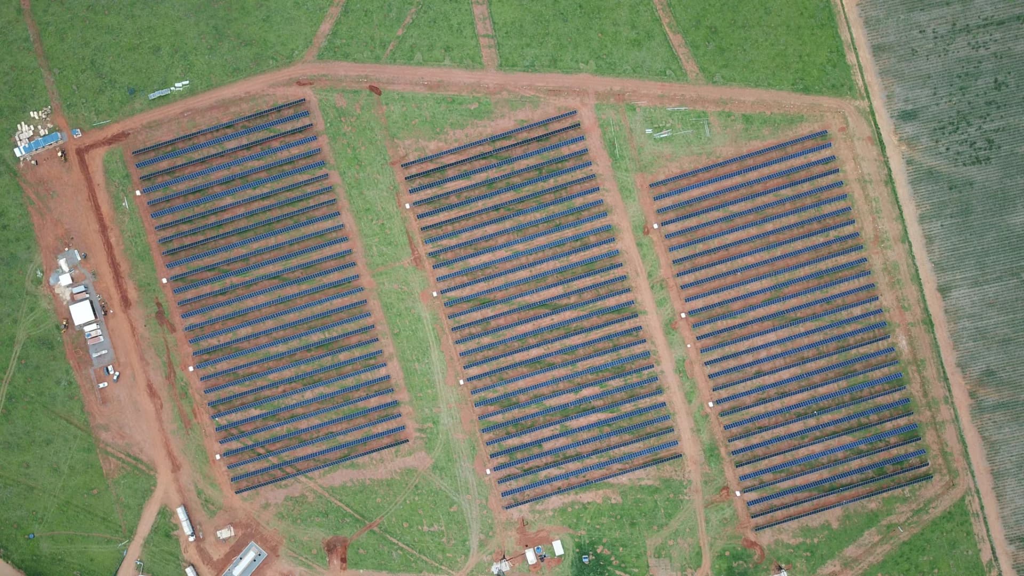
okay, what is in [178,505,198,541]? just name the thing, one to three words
vehicle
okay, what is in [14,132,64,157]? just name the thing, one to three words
building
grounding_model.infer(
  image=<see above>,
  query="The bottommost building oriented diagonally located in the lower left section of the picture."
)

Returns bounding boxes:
[223,539,270,576]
